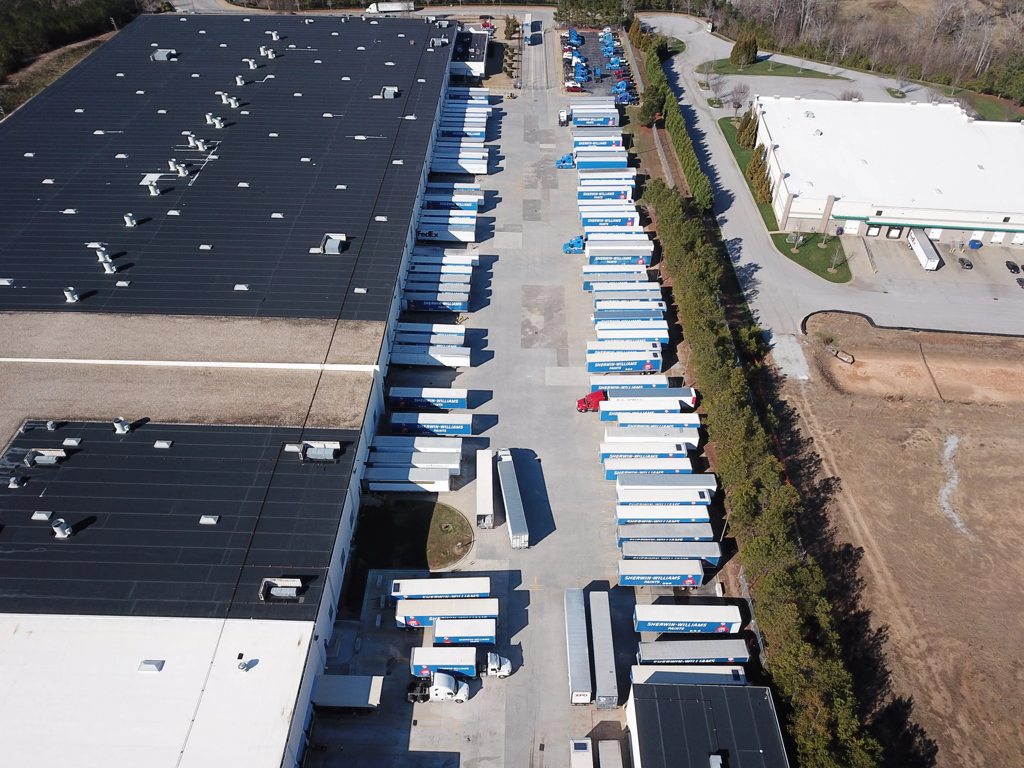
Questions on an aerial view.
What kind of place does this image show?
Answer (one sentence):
It's an industrial area.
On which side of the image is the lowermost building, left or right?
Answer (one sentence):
You can find the lowermost building on the right side of the picture.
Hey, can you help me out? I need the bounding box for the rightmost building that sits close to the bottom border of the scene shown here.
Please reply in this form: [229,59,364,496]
[628,684,789,768]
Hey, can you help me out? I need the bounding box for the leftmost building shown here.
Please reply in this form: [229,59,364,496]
[0,13,455,768]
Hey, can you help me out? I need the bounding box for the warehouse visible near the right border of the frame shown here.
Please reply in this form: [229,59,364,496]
[748,94,1024,246]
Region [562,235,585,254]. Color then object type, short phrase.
blue vehicle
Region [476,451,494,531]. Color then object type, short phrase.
white trailer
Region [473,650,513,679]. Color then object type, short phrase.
white truck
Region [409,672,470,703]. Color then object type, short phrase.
white truck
